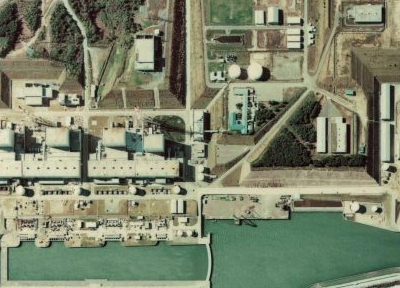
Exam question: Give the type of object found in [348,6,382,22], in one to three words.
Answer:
building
